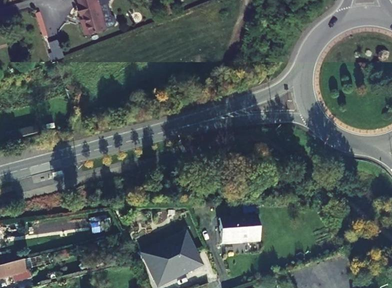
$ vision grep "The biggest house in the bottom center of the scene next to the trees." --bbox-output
[140,230,203,287]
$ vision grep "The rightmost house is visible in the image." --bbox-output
[220,212,263,244]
